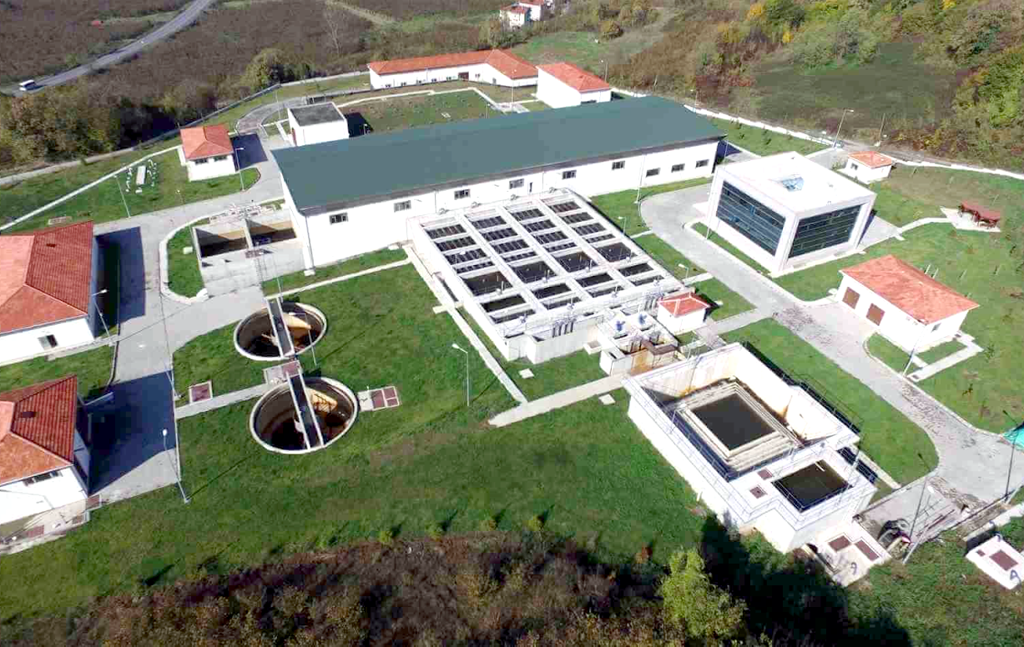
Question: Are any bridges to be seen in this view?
Yes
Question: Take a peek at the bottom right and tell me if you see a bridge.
No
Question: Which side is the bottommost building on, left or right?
left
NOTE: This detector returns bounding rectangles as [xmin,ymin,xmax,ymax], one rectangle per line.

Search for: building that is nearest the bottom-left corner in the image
[0,370,106,522]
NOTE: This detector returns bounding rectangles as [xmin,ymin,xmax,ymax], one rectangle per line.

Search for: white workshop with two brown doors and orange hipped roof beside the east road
[832,254,981,349]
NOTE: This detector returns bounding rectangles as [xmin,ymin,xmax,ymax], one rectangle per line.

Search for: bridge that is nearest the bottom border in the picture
[289,372,325,449]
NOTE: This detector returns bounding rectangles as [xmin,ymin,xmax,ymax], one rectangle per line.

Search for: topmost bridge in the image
[267,298,296,357]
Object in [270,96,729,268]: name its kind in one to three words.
building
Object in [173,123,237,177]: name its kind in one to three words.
building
